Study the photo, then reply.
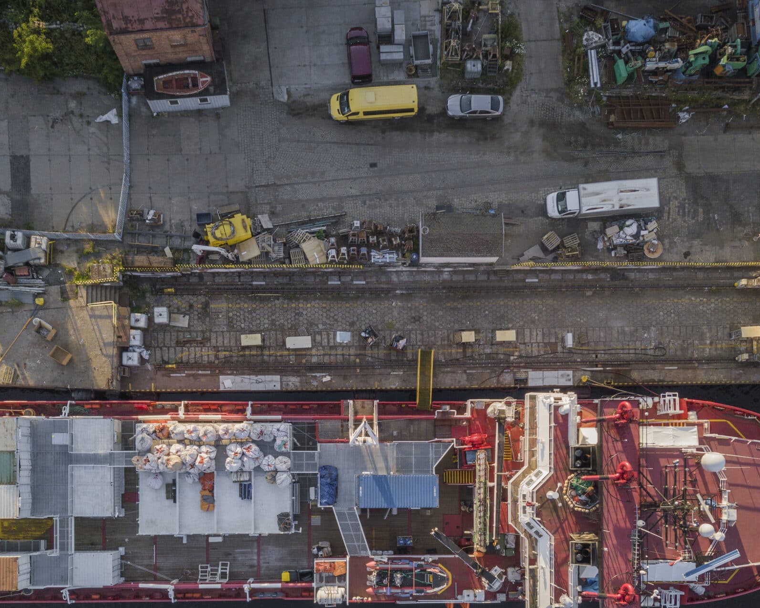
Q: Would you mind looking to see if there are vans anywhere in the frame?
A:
Yes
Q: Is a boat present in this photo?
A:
Yes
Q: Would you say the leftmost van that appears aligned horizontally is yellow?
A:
Yes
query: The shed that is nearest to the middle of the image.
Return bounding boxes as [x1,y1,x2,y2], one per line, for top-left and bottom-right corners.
[419,213,505,264]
